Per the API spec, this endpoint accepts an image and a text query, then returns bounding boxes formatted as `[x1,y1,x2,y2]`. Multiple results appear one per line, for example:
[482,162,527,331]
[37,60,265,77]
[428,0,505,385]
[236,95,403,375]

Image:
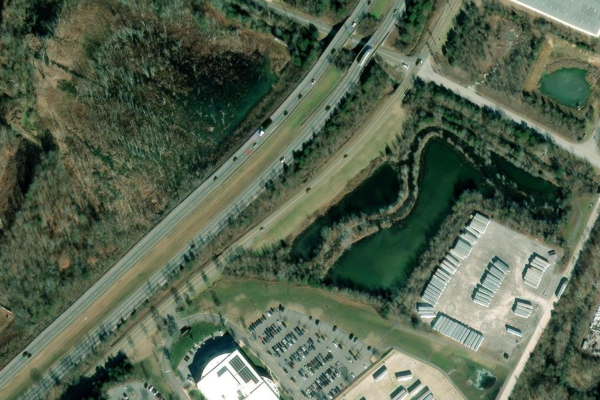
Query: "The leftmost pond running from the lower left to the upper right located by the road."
[181,53,279,166]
